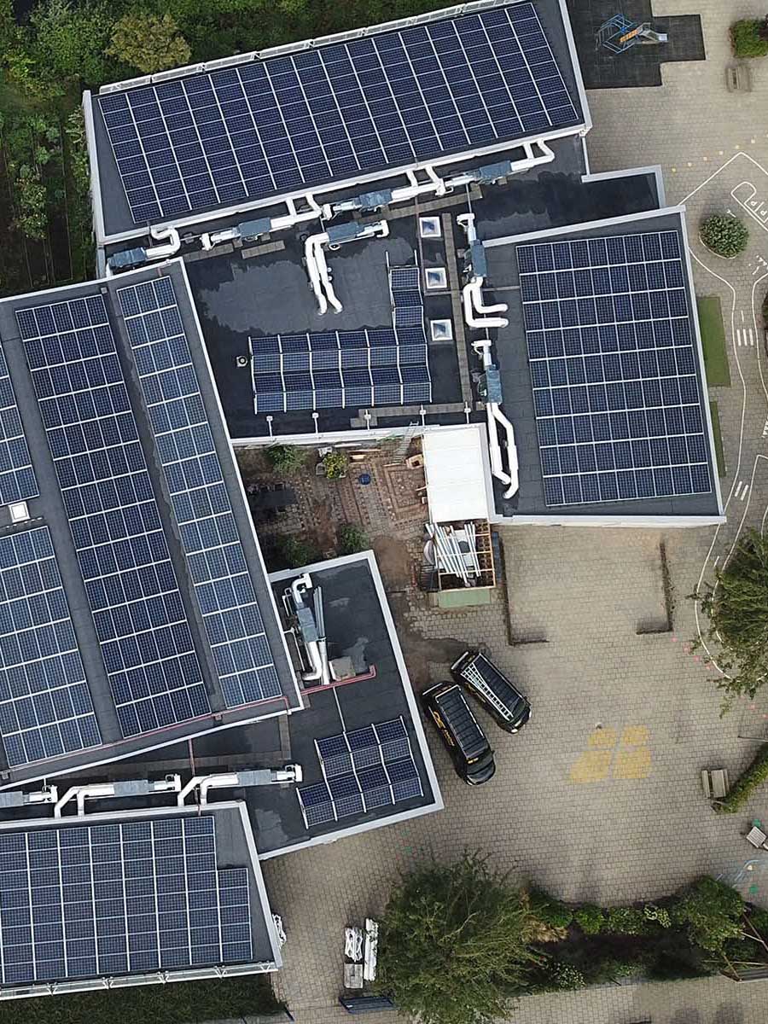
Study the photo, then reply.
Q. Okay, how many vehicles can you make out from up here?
2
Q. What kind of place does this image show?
solar farm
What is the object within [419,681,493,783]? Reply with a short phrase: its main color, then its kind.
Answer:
black van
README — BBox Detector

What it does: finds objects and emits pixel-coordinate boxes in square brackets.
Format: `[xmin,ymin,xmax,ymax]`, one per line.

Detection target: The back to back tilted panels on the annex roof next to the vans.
[296,715,417,822]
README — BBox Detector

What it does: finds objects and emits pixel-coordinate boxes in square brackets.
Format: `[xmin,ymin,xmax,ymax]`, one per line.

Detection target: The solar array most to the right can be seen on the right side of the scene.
[517,230,711,506]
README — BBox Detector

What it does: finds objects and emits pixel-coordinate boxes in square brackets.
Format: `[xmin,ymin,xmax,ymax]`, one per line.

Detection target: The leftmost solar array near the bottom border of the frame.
[0,816,252,984]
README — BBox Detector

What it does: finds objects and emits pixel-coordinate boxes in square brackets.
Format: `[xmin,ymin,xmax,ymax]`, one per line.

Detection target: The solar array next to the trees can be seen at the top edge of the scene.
[98,3,579,222]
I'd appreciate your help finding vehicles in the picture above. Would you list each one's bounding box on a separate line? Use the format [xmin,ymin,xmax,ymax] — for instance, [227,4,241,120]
[419,681,493,783]
[449,649,530,733]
